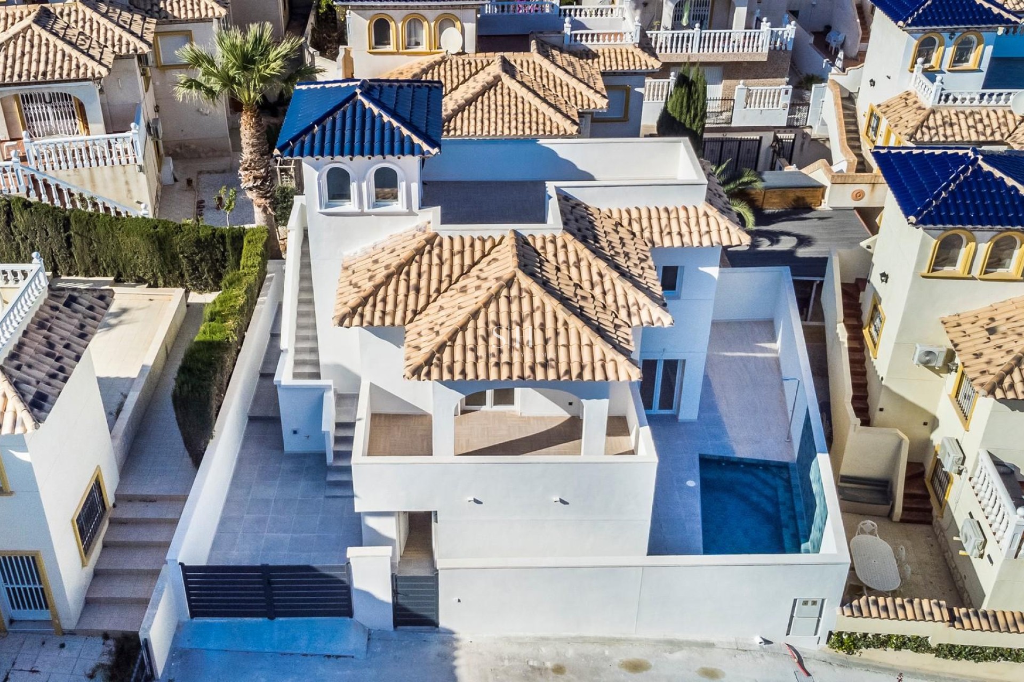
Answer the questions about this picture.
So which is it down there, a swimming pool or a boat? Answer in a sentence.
Of the two, only a swimming pool appears.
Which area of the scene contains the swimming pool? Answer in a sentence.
The swimming pool is located in the bottom right region of the scene.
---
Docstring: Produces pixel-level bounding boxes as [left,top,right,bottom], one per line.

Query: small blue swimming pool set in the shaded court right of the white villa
[699,458,795,545]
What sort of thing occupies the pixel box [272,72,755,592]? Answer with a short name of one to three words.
house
